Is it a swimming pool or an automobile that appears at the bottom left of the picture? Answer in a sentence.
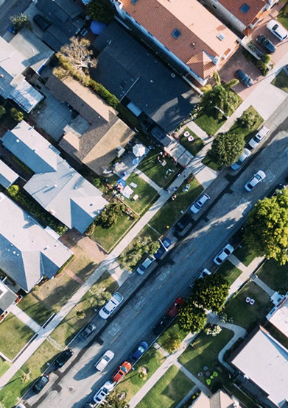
You can see an automobile at the bottom left of the picture.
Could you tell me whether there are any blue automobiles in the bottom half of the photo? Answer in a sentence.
Yes, a blue automobile is visible in the bottom half of the photo.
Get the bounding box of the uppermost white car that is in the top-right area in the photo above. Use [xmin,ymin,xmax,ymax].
[266,21,288,40]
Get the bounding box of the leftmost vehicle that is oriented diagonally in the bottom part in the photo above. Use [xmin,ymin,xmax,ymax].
[32,373,52,395]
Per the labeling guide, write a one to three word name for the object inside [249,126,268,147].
car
